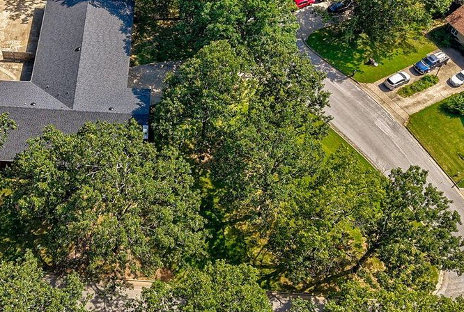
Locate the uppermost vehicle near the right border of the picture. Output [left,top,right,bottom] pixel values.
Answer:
[414,46,455,73]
